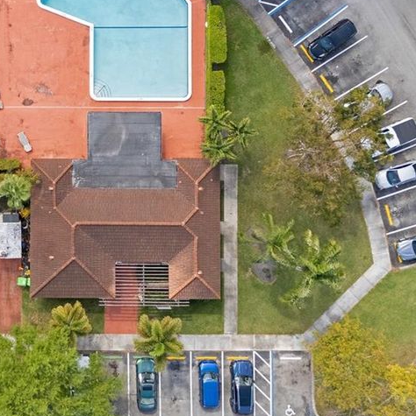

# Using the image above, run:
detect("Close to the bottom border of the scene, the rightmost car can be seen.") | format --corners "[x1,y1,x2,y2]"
[227,357,255,415]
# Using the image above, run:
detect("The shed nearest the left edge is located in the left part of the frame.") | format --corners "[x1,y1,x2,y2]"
[0,213,21,259]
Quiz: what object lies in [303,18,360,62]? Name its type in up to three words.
car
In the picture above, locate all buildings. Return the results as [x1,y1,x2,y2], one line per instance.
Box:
[29,110,222,307]
[0,213,21,259]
